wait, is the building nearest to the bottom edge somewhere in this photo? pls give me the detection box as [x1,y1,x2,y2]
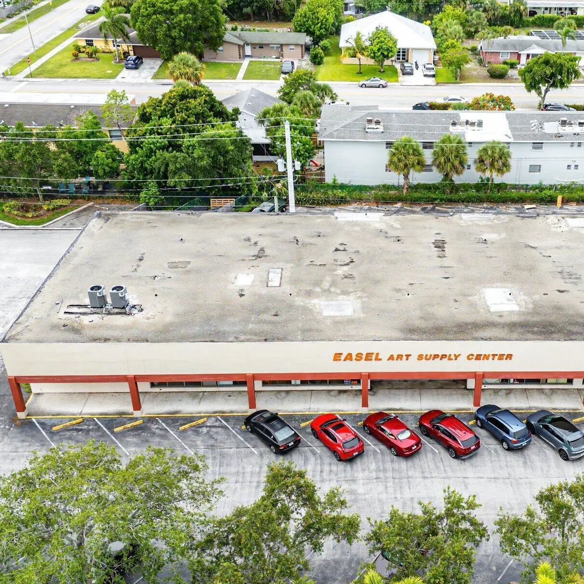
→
[0,208,584,419]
